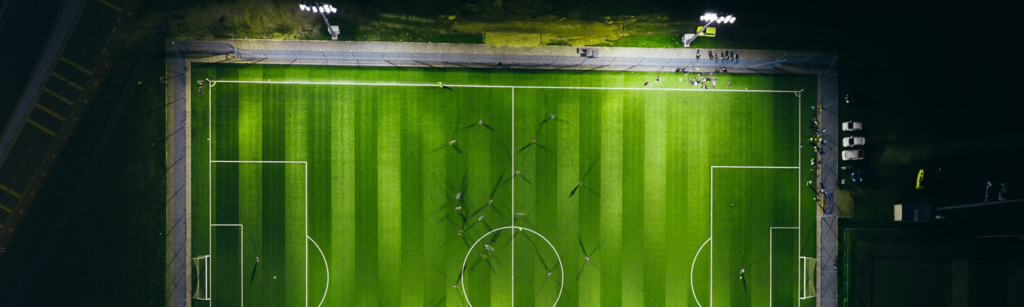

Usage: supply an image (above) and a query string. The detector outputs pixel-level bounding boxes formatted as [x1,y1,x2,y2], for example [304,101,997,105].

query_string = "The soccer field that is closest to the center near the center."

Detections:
[190,61,817,307]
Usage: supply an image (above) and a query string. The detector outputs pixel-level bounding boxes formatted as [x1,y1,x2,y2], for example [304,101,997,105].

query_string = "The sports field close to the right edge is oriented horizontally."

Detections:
[845,229,1024,307]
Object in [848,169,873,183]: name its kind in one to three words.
car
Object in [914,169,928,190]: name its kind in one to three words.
car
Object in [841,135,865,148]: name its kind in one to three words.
vehicle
